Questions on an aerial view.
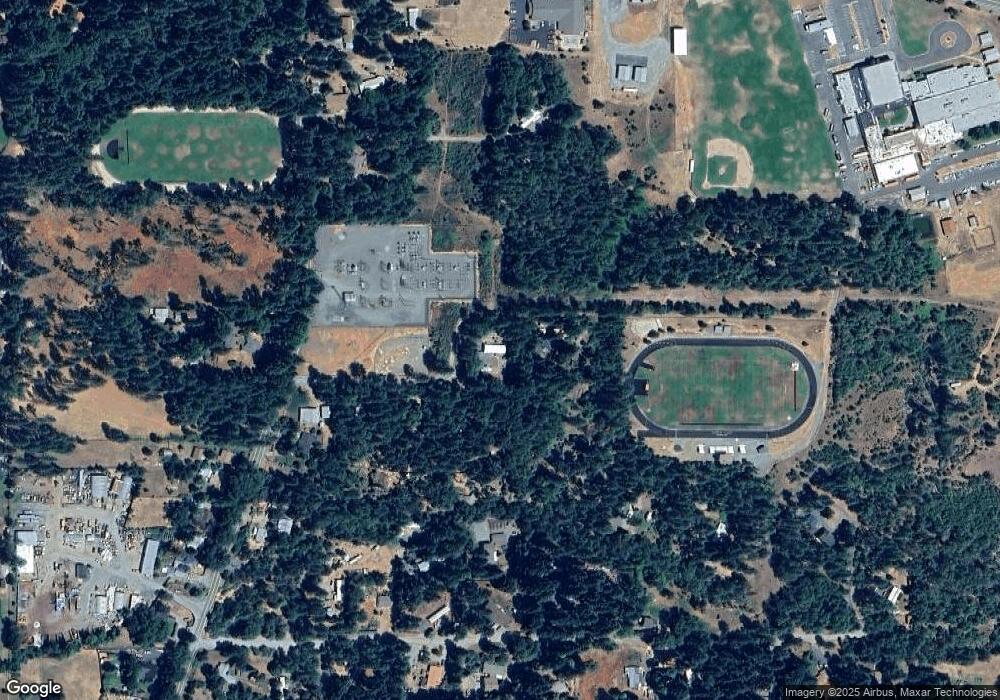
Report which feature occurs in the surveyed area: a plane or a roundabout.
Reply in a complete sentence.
I can see a roundabout in this picture.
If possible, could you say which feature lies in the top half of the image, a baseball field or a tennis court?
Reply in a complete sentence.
Looking in the top half of the image, you will find a baseball field.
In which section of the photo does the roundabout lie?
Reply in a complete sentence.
Look in the top right portion of the view to spot the roundabout.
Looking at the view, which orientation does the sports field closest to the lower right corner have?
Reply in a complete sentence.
In this picture, the sports field closest to the lower right corner lies horizontally.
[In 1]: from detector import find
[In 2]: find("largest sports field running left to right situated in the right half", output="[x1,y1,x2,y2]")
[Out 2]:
[634,348,808,428]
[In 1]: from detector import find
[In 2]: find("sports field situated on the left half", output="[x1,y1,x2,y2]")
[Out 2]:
[95,107,284,187]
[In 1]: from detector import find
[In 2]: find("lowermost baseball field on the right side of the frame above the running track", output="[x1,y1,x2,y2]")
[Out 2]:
[692,134,758,194]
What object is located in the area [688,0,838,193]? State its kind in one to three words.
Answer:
sports field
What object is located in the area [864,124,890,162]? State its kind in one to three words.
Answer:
building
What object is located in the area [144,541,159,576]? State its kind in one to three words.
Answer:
building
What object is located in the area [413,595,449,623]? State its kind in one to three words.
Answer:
house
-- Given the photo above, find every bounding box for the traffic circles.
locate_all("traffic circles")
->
[893,21,972,71]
